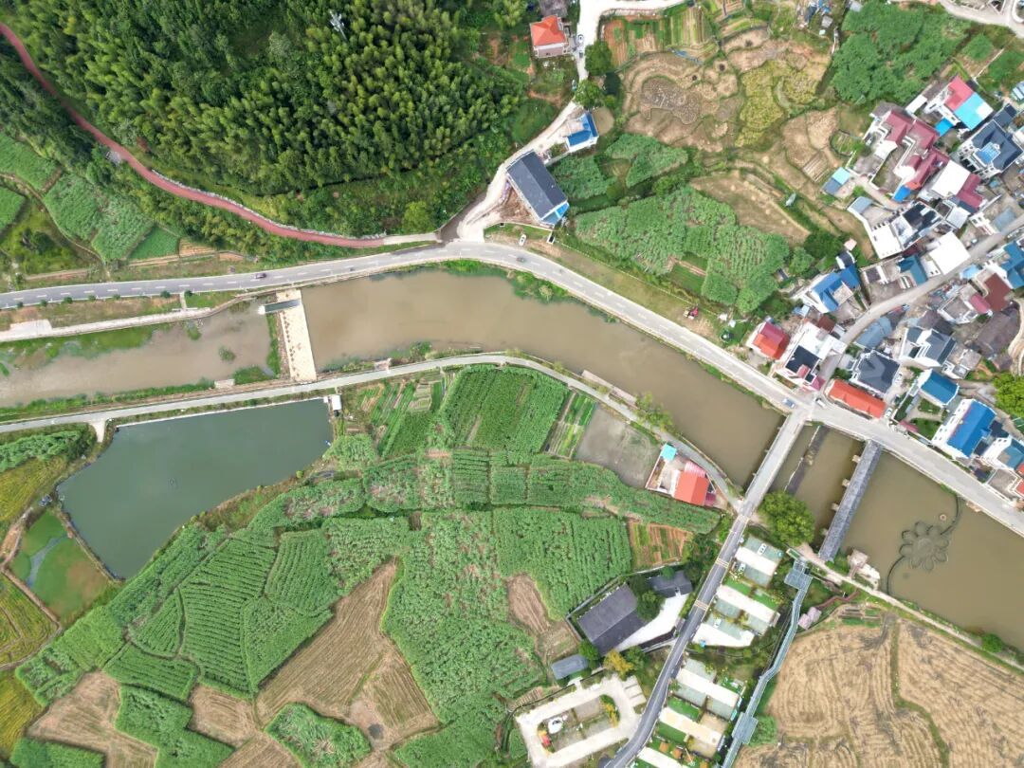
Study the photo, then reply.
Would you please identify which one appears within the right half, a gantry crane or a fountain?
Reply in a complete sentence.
The feature located within the right half is a fountain.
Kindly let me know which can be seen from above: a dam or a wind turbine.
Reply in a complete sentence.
There is a dam in the scene.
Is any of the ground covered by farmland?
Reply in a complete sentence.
Yes, there's farmland in this view.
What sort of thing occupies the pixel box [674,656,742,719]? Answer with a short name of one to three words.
building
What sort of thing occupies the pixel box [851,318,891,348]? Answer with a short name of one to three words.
building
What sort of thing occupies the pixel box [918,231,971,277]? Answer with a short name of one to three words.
house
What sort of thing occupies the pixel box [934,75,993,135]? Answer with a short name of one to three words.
house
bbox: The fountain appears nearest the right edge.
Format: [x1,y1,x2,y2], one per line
[887,497,959,594]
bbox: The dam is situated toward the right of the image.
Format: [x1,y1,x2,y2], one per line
[785,430,827,495]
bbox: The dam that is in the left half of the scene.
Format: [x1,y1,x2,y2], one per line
[258,290,317,380]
